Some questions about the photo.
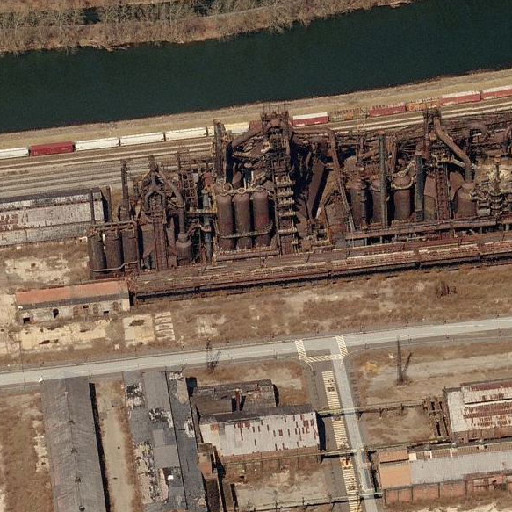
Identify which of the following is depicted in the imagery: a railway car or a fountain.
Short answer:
railway car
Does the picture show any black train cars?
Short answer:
No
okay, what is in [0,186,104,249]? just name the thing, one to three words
shed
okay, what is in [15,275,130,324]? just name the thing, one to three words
building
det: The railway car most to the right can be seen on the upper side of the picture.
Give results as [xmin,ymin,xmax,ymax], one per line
[480,82,512,97]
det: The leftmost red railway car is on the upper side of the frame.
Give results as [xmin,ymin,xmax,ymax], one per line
[28,138,74,154]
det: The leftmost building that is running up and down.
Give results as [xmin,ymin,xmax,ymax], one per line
[43,373,109,512]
